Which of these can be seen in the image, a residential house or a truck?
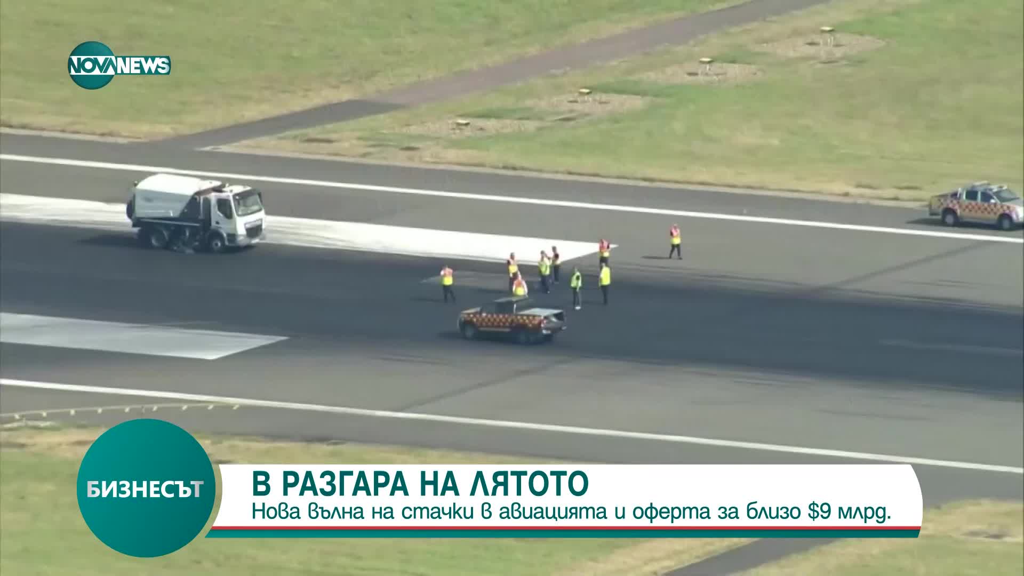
truck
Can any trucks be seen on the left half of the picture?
Yes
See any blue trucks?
No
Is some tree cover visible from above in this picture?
No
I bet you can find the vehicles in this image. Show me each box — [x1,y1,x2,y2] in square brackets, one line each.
[451,298,570,343]
[128,174,267,253]
[926,175,1024,234]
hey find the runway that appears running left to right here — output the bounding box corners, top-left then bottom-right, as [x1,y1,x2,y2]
[0,134,1024,497]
